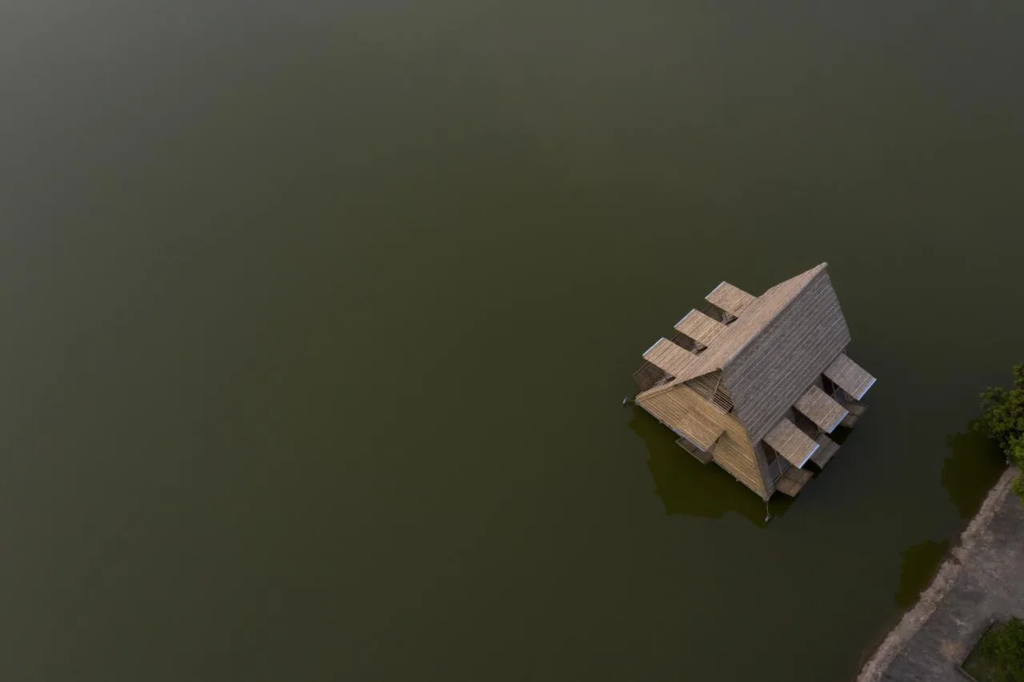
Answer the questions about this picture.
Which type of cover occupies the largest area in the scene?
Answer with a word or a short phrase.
water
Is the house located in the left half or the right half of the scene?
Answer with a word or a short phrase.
right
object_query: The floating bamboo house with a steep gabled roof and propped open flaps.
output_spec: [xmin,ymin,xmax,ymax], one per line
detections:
[633,263,878,500]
